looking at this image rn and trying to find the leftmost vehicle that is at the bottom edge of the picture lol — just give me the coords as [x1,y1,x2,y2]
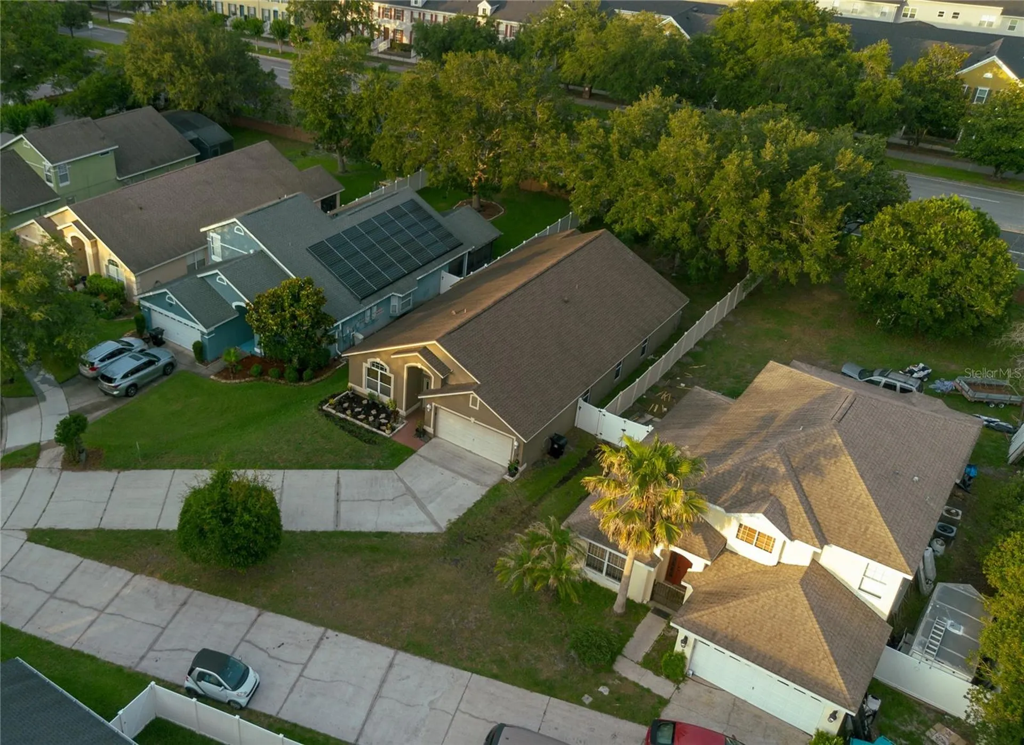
[181,645,262,711]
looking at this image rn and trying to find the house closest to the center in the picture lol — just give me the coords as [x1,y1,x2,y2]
[340,229,688,473]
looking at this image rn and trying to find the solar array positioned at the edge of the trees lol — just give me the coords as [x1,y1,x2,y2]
[307,199,461,300]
